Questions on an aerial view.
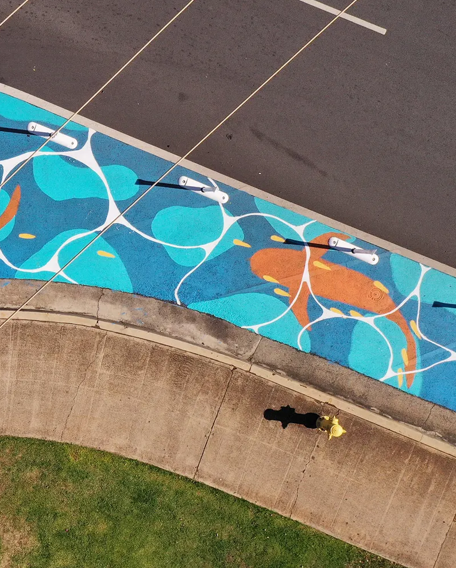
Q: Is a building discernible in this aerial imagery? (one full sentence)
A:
No, no building is visible in the view.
